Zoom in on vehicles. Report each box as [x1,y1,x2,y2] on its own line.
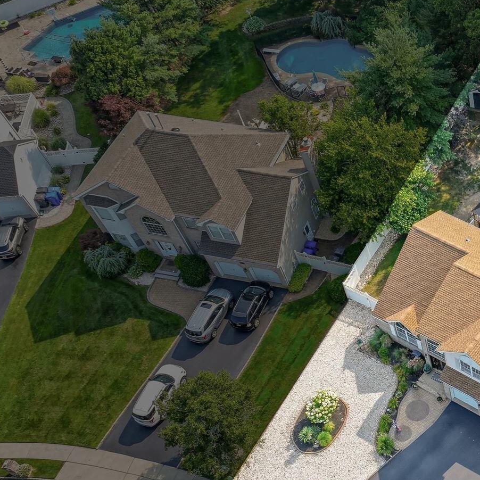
[129,361,189,429]
[0,213,34,263]
[184,285,239,347]
[231,276,275,335]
